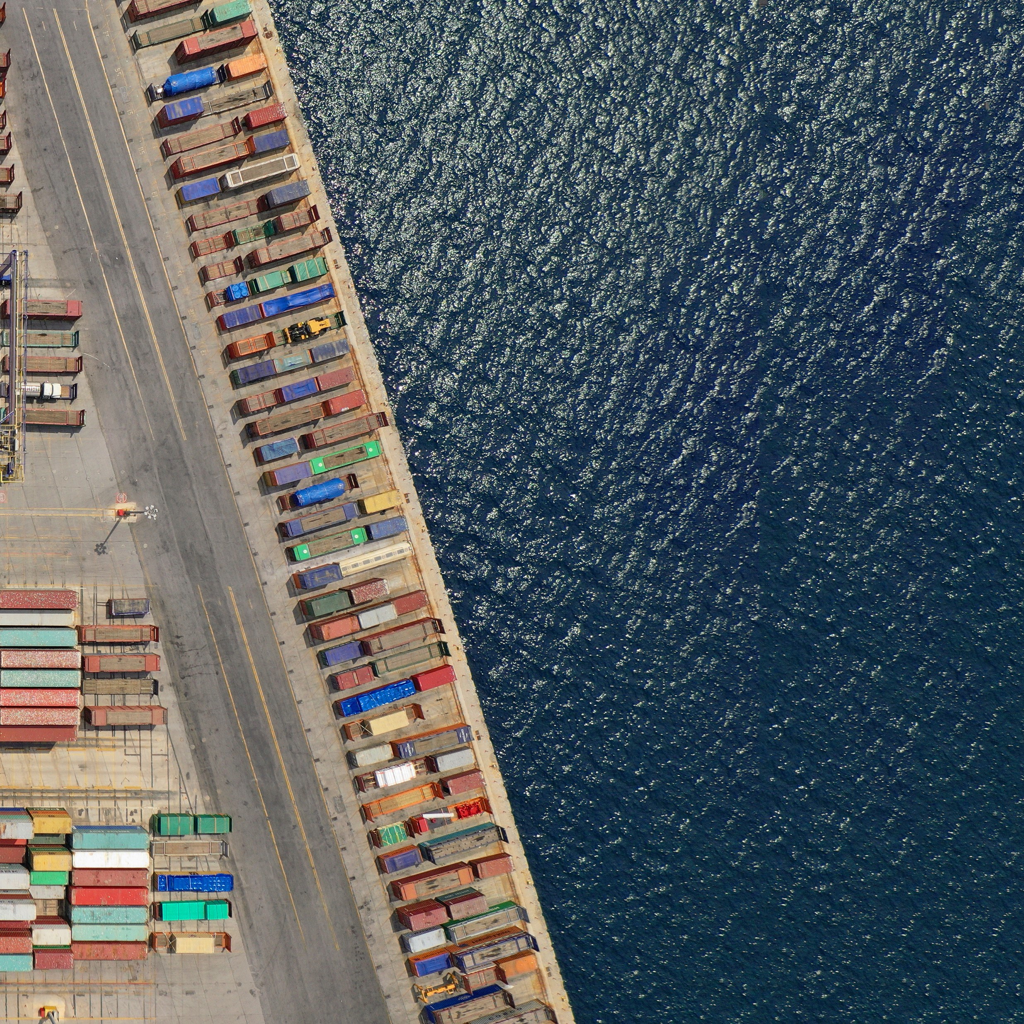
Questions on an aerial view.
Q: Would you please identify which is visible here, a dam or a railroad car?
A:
railroad car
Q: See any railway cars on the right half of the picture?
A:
No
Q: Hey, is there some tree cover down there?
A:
No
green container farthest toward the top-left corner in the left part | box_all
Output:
[208,0,253,27]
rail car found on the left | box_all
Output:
[333,541,413,576]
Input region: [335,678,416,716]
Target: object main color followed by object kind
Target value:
blue shipping container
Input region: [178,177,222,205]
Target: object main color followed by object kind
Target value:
blue shipping container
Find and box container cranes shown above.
[0,250,29,483]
